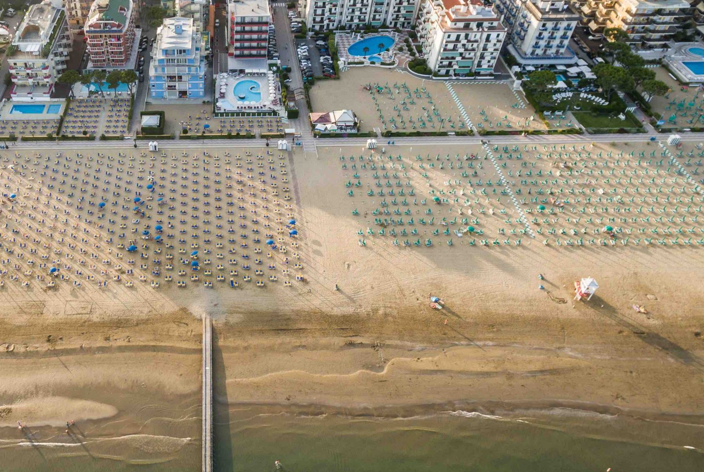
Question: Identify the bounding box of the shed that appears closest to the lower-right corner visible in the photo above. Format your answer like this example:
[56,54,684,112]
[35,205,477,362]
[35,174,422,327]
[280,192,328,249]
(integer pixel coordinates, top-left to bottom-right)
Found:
[569,277,601,305]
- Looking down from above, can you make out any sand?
Yes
